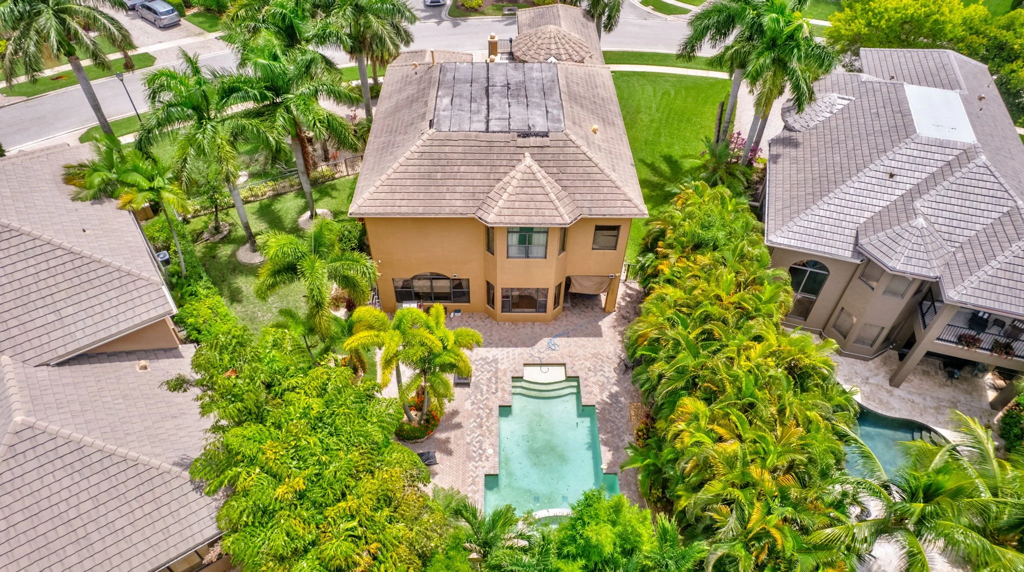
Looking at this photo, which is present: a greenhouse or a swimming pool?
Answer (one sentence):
Visible in the photo is a swimming pool.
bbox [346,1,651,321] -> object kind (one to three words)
house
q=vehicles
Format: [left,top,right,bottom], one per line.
[120,0,140,9]
[133,0,178,24]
